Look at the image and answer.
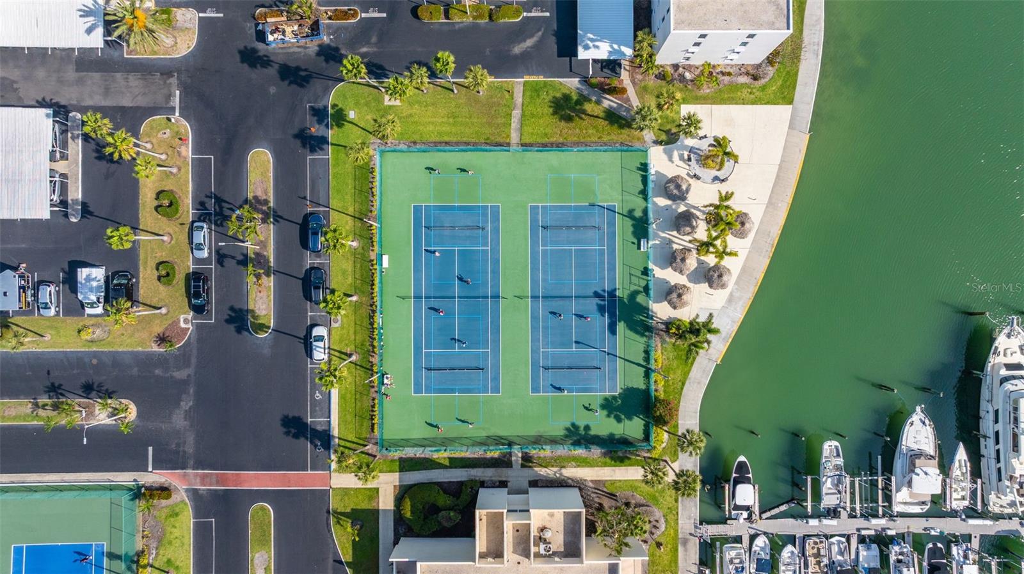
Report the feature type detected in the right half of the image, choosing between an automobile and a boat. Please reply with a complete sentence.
What appears in the right half of the image is a boat.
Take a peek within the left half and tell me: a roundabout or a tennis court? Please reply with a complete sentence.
The one visible within the left half is a tennis court.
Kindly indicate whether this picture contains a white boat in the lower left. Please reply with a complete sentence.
No, I see no white boat in the lower left.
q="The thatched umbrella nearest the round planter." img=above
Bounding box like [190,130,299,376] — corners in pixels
[663,175,690,202]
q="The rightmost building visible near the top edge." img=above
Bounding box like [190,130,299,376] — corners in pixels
[652,0,794,62]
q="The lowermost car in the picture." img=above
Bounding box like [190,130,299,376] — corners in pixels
[309,325,328,362]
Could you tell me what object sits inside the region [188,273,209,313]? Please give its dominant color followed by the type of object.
black car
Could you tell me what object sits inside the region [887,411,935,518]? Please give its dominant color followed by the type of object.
white boat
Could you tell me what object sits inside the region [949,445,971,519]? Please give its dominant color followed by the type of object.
white boat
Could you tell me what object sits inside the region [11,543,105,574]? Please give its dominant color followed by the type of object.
blue tennis court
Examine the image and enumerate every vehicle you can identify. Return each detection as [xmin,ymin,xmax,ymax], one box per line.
[53,168,64,205]
[188,273,209,313]
[309,325,328,362]
[191,220,209,259]
[306,213,325,252]
[75,269,106,316]
[35,280,57,317]
[53,122,64,160]
[107,270,130,313]
[307,266,325,304]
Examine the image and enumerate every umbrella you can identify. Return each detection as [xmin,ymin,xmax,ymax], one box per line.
[669,248,696,275]
[663,175,690,202]
[705,264,730,290]
[666,283,691,309]
[674,210,699,236]
[731,213,754,238]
